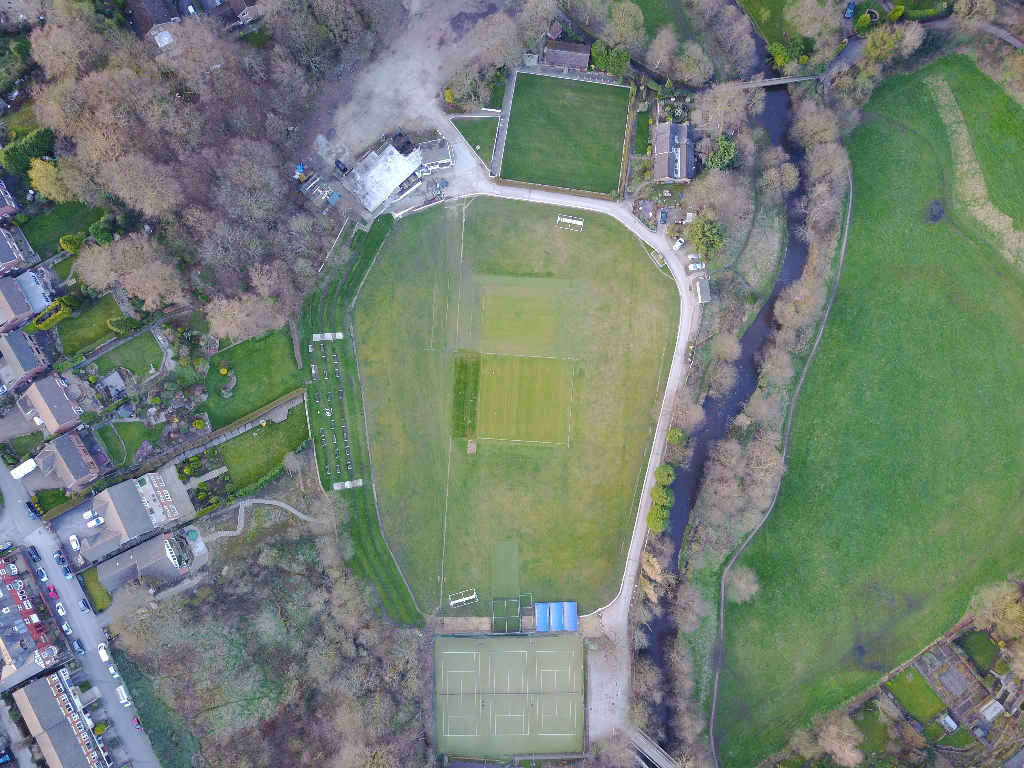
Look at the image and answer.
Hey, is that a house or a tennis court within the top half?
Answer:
house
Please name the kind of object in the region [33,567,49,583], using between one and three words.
car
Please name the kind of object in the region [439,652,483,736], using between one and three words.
tennis court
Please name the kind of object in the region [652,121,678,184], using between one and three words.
house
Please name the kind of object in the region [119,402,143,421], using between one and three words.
gazebo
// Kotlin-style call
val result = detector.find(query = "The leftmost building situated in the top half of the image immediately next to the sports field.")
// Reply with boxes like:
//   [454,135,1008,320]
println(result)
[342,142,424,215]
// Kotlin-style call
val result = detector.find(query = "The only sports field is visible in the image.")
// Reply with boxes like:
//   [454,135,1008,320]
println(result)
[353,194,681,633]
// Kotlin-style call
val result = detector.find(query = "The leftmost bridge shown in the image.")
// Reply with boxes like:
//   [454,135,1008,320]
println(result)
[625,729,680,768]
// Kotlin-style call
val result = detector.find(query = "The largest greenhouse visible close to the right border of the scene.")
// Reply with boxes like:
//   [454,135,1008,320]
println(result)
[975,694,1003,720]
